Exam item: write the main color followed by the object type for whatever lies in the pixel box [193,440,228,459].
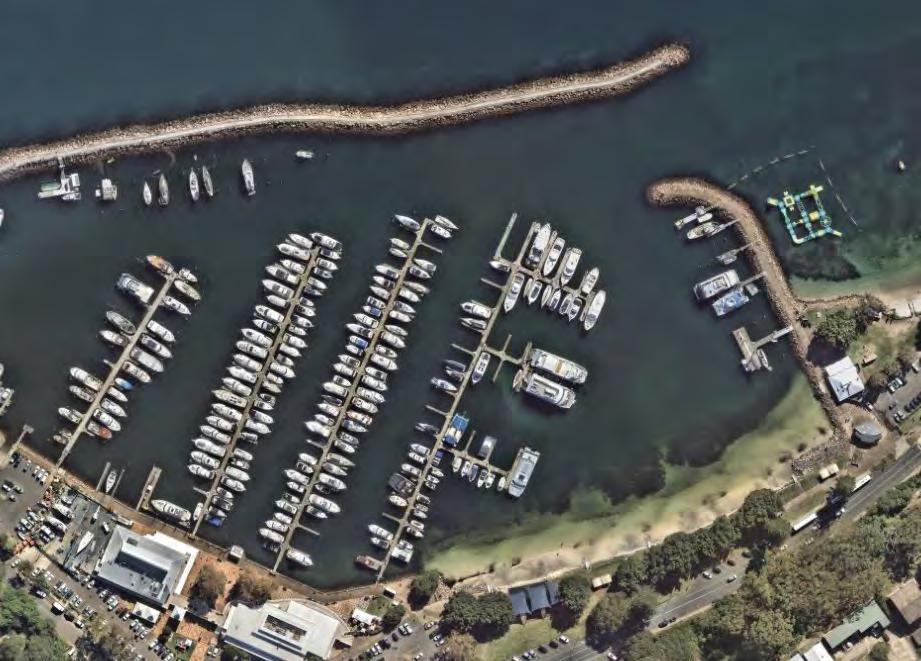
white boat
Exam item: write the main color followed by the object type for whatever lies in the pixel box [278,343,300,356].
white boat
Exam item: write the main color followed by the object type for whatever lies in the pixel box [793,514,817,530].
white vehicle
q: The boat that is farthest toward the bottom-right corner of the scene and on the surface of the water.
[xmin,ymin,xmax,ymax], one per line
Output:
[760,350,773,372]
